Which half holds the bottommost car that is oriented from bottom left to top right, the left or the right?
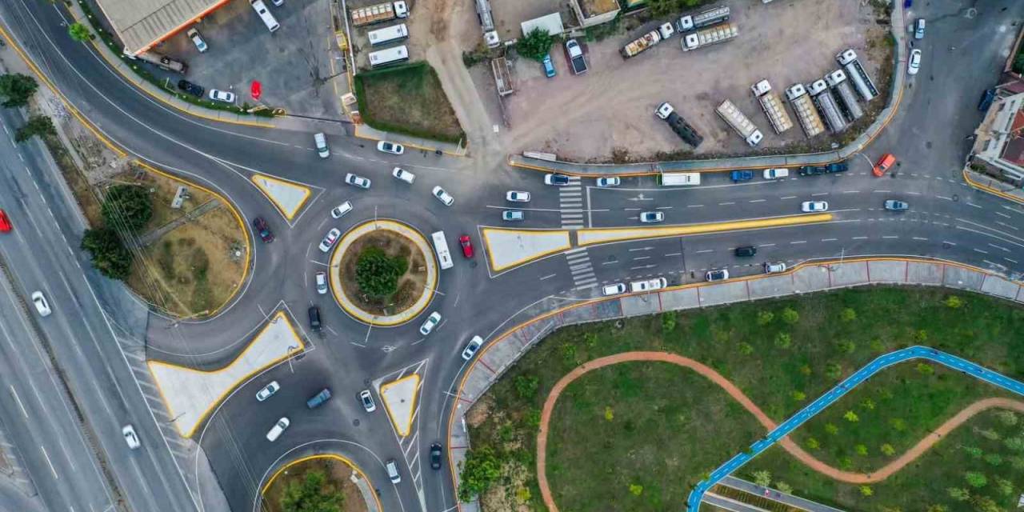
left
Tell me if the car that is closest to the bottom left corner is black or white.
white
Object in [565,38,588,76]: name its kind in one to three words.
truck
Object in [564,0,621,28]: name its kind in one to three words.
building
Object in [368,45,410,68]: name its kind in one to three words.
bus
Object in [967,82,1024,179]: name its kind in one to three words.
house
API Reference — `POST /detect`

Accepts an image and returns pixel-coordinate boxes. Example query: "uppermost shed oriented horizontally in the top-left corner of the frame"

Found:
[95,0,242,60]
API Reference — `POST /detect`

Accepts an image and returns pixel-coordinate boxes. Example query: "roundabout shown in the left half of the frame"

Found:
[330,219,438,327]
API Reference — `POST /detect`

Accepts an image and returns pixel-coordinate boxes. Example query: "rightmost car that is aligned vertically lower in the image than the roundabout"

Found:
[429,442,442,469]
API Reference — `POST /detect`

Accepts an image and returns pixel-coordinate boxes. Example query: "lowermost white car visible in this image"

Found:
[385,458,402,483]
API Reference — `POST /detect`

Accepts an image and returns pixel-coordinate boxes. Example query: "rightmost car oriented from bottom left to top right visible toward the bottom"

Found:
[461,335,484,360]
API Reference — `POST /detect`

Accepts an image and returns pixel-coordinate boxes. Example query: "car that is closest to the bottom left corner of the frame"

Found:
[123,423,143,450]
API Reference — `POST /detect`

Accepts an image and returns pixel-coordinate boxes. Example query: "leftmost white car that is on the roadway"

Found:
[33,291,54,318]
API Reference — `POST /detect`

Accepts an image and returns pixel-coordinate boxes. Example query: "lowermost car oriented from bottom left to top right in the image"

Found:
[265,416,291,443]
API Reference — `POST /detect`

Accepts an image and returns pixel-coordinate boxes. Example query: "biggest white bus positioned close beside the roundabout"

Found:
[430,230,454,270]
